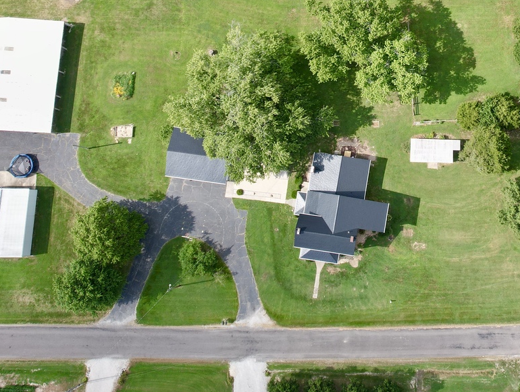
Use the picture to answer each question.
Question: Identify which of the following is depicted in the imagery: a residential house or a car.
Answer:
residential house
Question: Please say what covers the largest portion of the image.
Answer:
grass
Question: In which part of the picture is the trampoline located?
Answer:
left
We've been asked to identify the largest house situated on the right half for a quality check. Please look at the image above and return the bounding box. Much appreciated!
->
[294,148,389,264]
